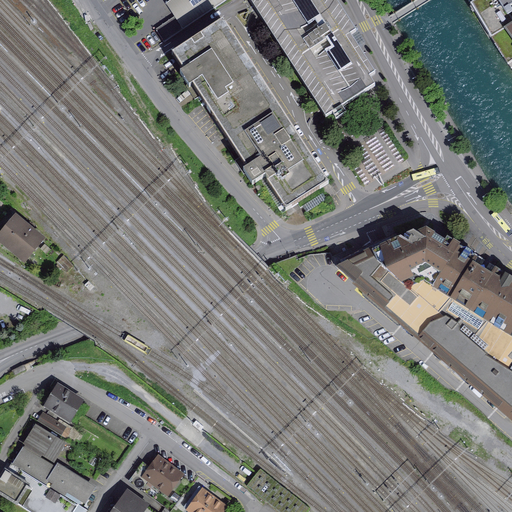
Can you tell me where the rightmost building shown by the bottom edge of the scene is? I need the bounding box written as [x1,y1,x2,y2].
[246,468,311,512]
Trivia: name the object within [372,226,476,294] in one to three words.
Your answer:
building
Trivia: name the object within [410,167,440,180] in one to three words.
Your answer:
vehicle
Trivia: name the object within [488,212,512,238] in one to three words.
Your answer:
bus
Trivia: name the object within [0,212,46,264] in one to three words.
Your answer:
house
